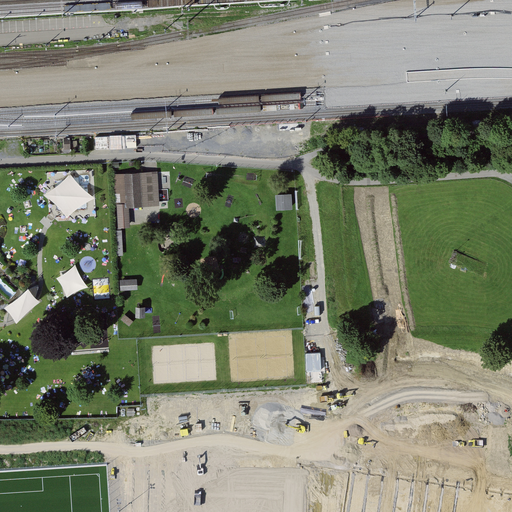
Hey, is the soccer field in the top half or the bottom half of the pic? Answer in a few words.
bottom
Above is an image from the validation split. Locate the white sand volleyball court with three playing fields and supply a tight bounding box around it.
[152,343,216,384]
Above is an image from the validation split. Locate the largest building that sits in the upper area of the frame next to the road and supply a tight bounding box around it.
[114,172,159,226]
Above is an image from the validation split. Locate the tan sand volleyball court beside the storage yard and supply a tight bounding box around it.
[229,330,294,382]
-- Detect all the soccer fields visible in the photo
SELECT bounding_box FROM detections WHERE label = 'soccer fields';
[0,464,110,512]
